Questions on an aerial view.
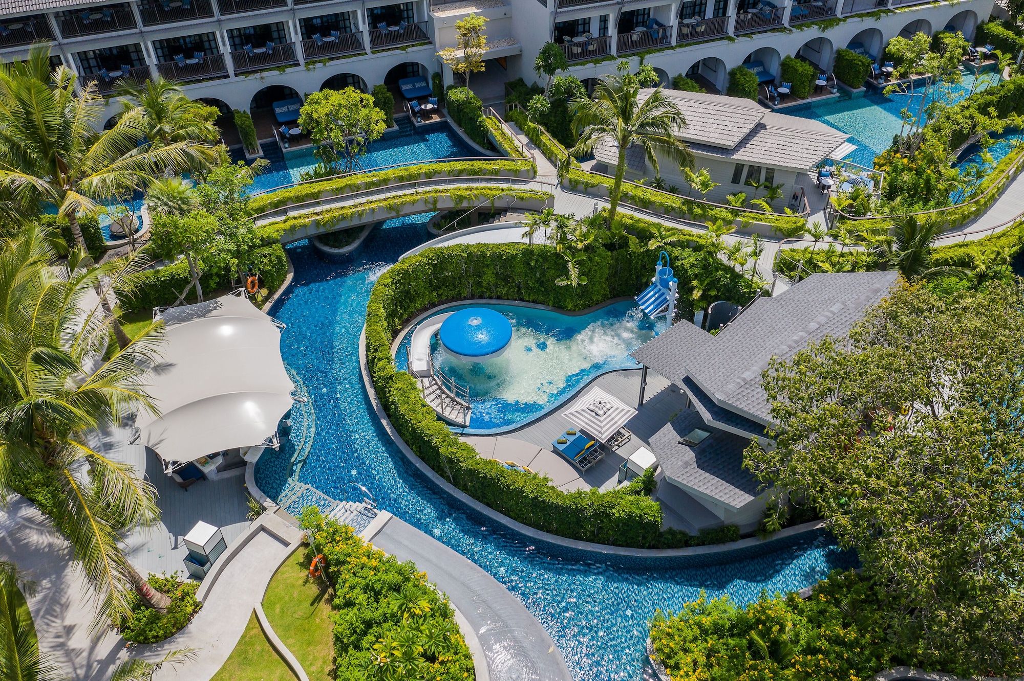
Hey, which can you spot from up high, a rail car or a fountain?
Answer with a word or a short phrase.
fountain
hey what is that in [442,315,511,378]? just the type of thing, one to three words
fountain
